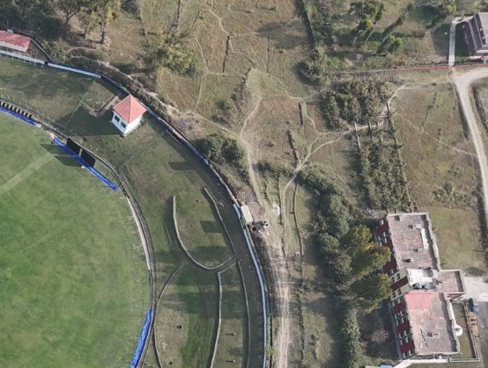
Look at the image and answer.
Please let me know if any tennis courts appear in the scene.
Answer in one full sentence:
No, the frame has no tennis court in it.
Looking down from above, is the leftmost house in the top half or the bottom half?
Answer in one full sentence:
You can find the leftmost house in the top half.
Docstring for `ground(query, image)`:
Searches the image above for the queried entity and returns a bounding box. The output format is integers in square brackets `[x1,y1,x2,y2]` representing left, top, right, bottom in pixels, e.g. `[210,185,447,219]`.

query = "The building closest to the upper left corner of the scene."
[0,29,31,55]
